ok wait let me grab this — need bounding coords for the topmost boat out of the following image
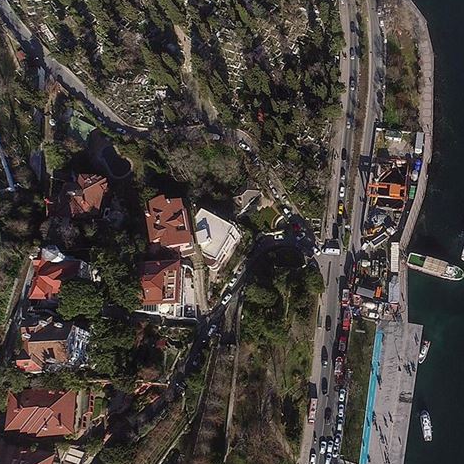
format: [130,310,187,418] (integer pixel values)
[408,252,464,279]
